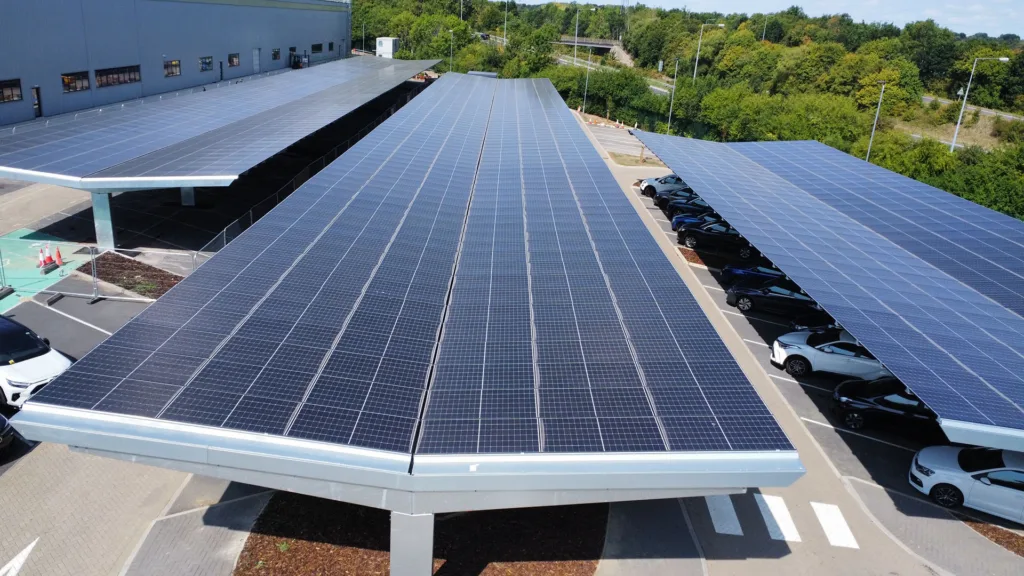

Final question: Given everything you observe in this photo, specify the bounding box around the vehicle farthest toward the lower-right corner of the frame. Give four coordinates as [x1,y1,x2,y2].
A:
[908,436,1024,519]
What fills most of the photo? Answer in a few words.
buildings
